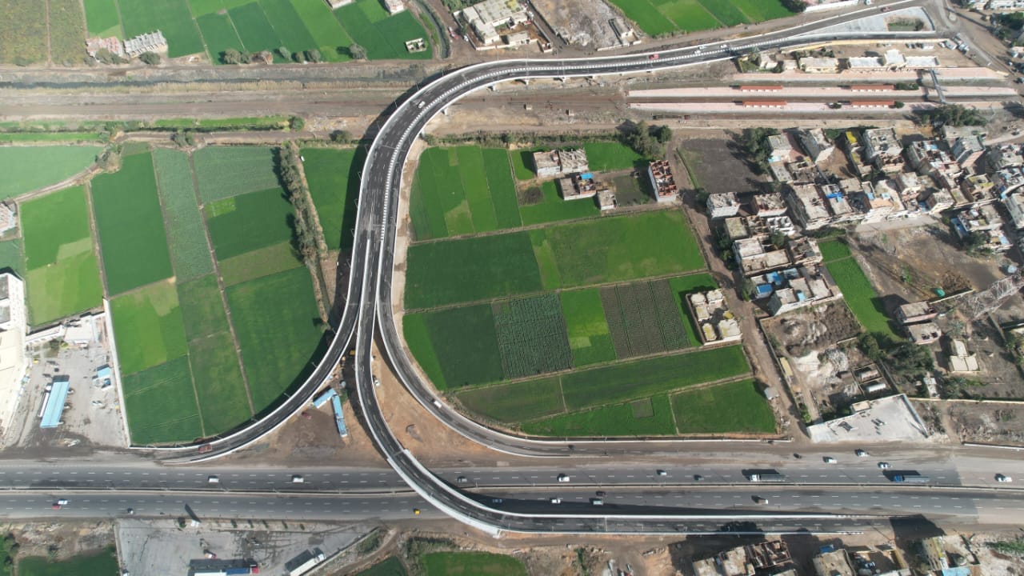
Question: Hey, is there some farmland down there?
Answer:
Yes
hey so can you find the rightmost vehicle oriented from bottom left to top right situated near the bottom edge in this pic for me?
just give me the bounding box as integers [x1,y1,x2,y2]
[289,551,325,576]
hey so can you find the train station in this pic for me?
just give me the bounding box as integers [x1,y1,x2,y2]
[629,68,1018,113]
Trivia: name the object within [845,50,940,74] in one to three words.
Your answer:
building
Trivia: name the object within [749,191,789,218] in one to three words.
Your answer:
house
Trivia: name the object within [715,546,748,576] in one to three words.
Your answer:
house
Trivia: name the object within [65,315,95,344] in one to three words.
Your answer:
building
